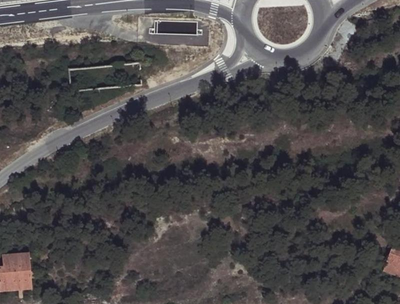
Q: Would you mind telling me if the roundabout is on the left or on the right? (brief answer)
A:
right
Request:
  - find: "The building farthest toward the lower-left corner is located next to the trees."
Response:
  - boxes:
[0,254,33,298]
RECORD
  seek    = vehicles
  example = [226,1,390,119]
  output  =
[264,46,275,54]
[334,8,344,18]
